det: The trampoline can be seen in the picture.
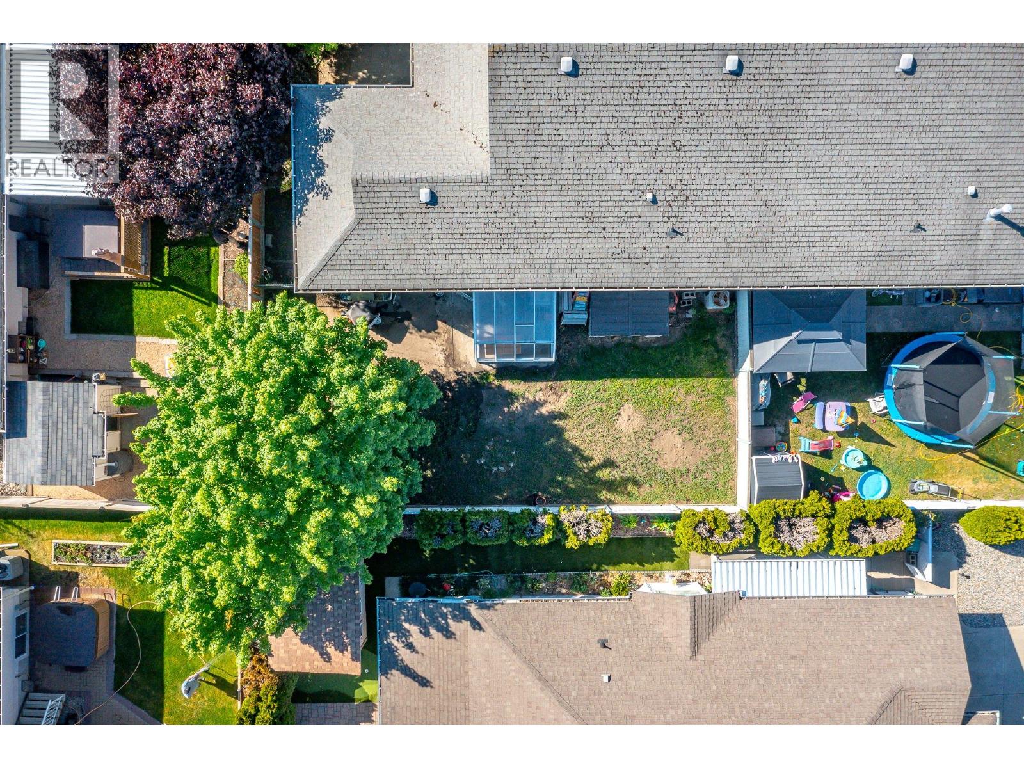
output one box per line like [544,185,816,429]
[875,332,1021,448]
